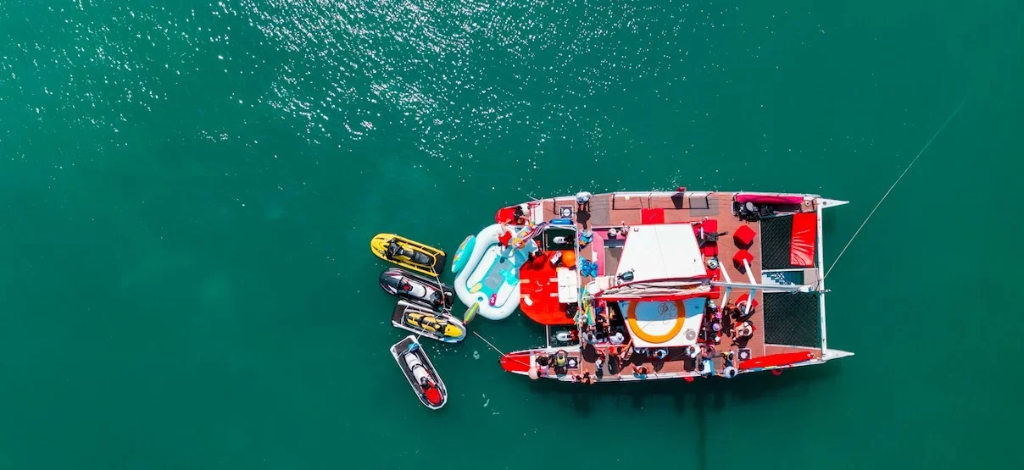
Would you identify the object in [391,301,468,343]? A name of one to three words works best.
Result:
boat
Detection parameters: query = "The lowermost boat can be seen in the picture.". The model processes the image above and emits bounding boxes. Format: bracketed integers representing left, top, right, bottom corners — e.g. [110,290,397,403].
[390,335,446,411]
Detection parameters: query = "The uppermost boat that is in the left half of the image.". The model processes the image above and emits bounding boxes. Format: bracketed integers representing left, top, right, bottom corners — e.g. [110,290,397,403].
[369,234,447,277]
